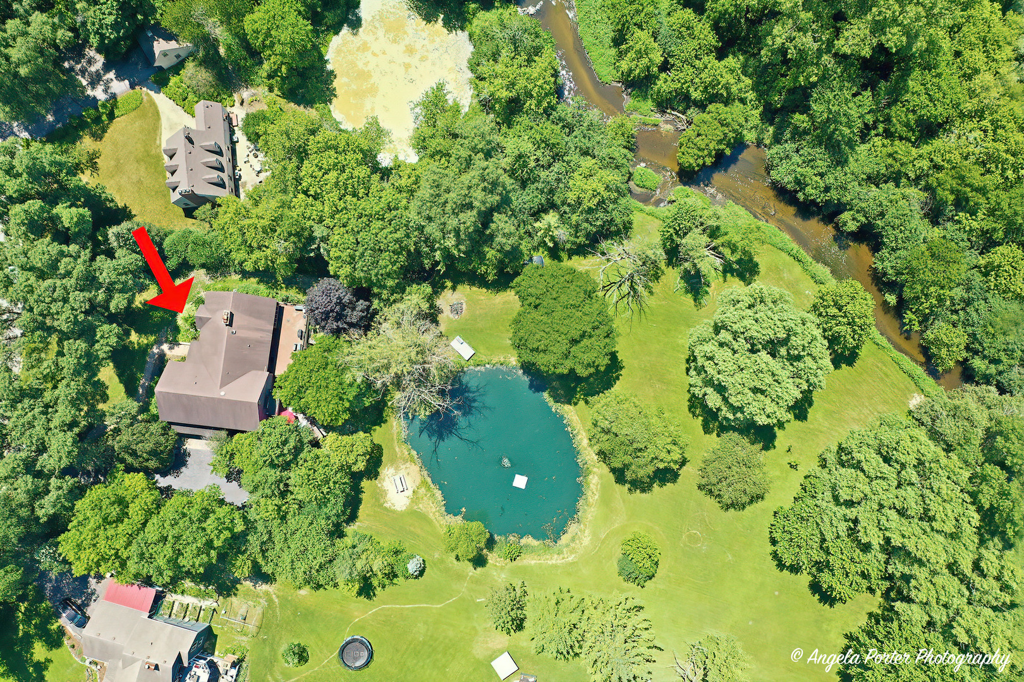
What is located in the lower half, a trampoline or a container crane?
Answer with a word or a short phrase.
trampoline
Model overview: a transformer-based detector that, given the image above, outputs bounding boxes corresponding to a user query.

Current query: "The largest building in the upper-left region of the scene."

[162,98,238,206]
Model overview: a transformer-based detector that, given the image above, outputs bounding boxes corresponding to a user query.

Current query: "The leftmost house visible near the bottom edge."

[83,572,208,682]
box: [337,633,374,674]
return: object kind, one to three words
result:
trampoline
